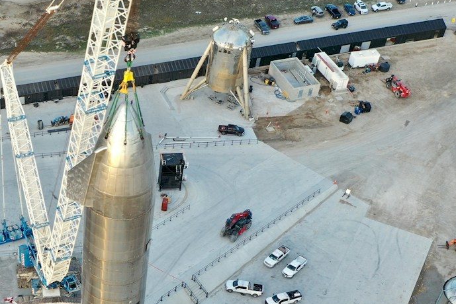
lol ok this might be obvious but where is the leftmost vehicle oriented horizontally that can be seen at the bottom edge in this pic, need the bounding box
[225,280,263,297]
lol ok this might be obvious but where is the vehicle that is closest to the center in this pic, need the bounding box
[215,123,247,138]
